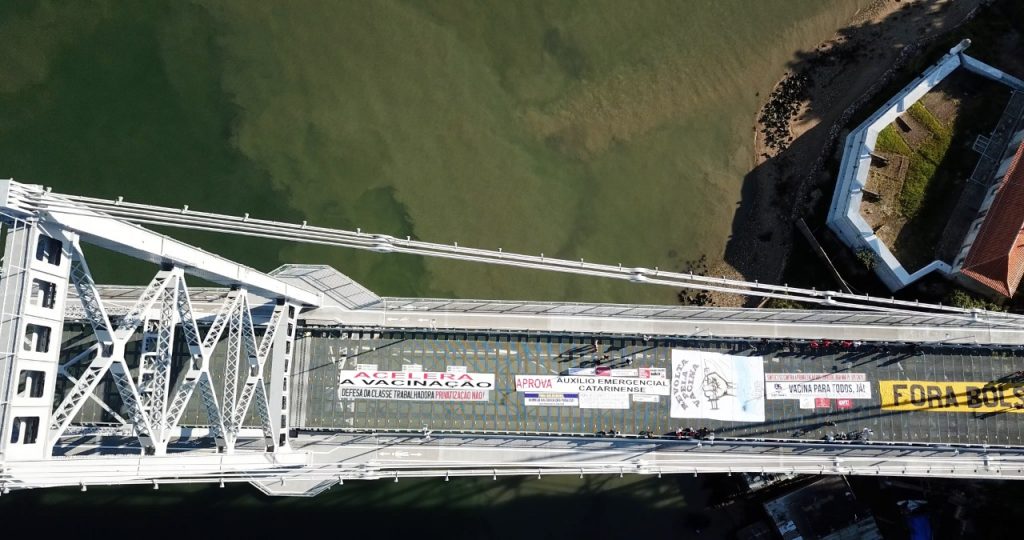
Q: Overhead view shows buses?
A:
No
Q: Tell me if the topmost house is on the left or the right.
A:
right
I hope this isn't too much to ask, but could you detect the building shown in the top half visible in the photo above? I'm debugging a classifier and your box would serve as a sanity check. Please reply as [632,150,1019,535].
[940,123,1024,297]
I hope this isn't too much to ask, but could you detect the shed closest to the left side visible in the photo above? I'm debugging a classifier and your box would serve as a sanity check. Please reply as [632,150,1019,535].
[757,479,870,540]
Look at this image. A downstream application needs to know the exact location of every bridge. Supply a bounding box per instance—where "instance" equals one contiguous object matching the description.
[0,172,1024,498]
